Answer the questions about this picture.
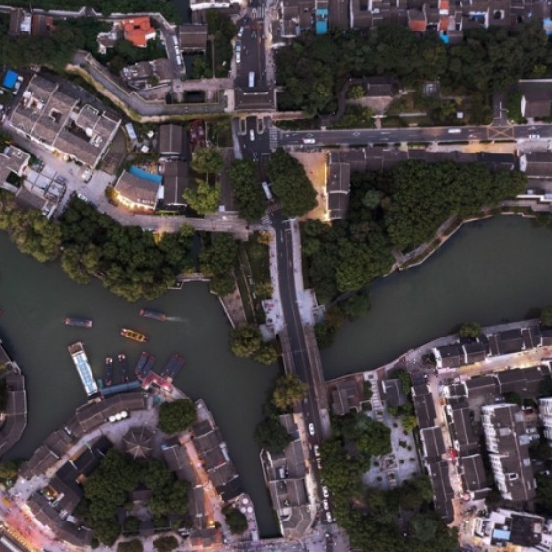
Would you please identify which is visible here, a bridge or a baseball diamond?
bridge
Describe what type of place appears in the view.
residential area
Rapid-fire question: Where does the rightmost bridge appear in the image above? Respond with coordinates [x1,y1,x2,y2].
[278,328,327,395]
